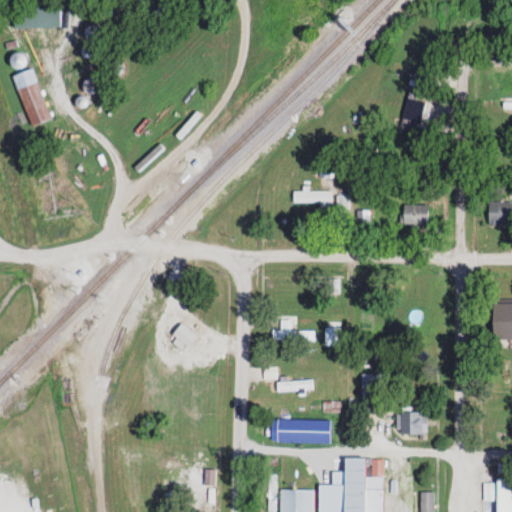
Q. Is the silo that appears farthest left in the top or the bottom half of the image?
top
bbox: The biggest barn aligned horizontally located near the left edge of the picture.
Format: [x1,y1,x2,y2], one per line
[12,7,70,28]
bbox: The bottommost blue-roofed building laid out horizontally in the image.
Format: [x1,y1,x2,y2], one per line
[272,419,333,445]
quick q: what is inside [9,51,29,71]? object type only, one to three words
silo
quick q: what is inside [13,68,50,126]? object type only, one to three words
barn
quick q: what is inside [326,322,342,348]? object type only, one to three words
house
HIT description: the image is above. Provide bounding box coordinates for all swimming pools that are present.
[408,308,424,327]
